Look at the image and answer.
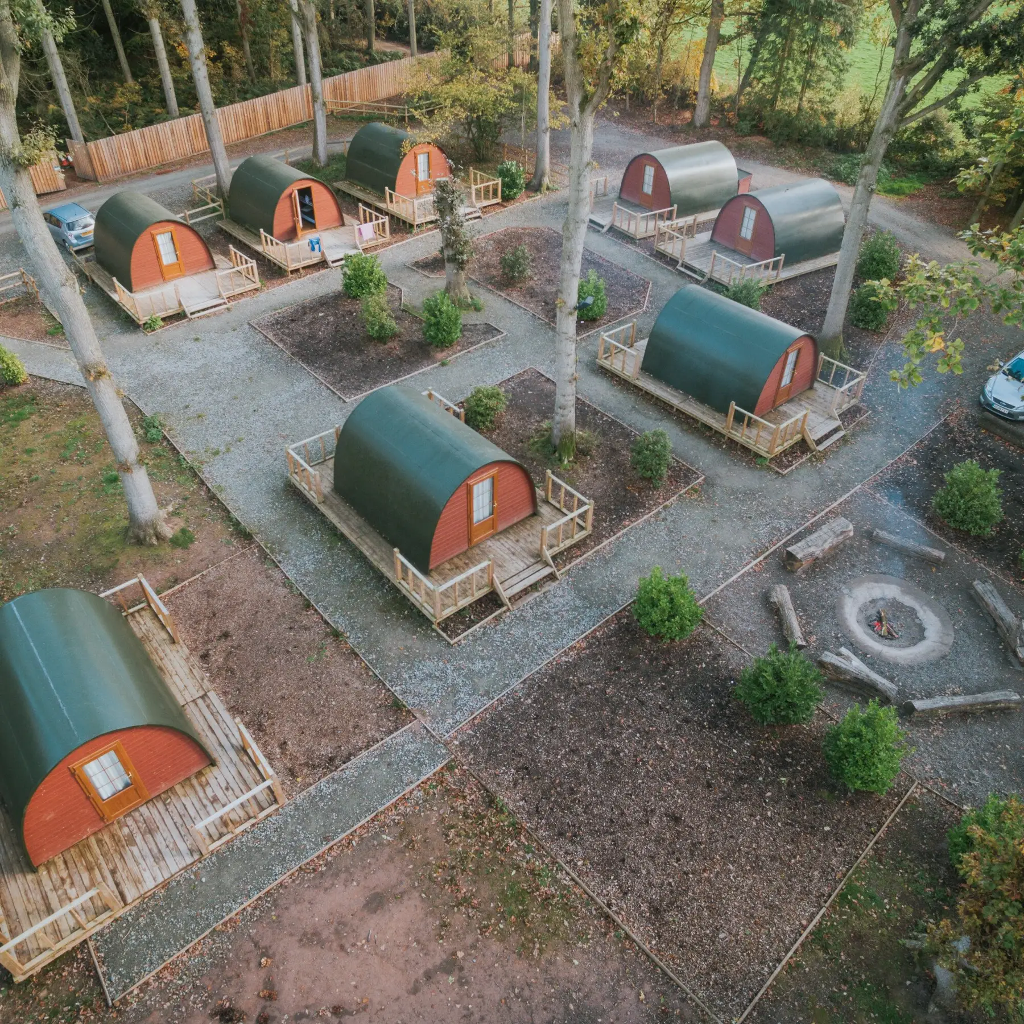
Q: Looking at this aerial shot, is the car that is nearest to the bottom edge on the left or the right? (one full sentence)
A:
You can find the car that is nearest to the bottom edge on the right side of the picture.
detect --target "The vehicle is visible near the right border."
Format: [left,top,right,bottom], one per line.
[979,353,1024,422]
